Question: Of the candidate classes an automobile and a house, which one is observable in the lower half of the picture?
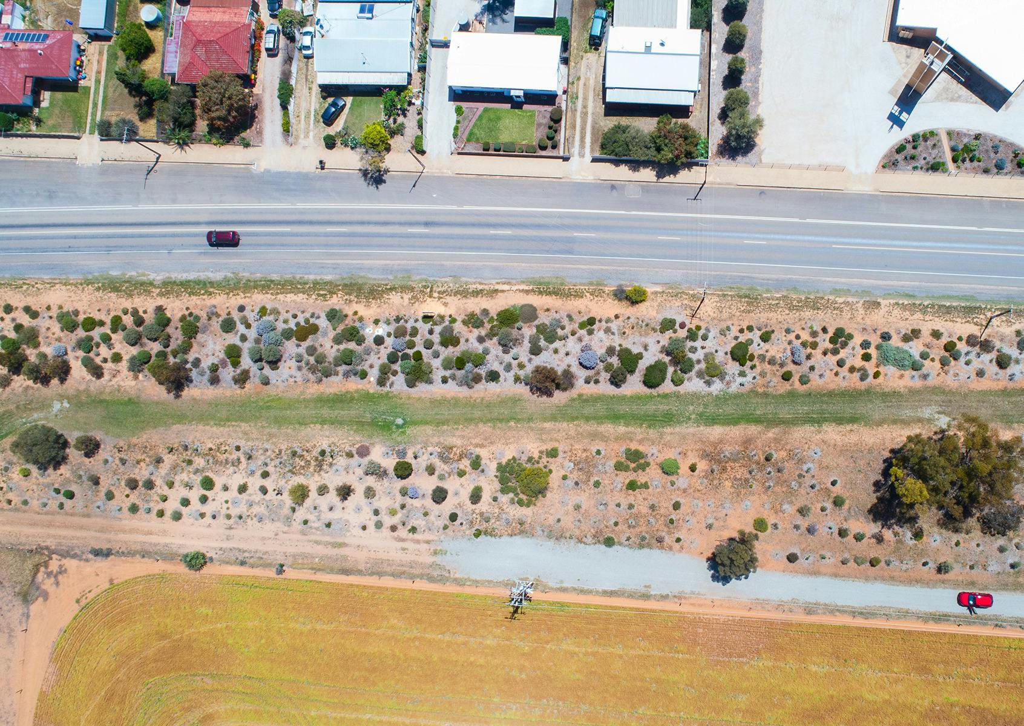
automobile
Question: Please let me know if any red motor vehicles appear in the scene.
Yes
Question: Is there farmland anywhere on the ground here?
Yes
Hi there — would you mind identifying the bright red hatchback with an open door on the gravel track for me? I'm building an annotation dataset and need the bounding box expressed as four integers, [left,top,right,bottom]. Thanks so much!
[957,592,992,614]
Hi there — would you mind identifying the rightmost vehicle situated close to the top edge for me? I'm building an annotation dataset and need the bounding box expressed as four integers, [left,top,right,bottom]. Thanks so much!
[590,10,609,48]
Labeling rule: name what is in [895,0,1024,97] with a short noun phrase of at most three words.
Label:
building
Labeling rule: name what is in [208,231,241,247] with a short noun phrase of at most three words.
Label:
car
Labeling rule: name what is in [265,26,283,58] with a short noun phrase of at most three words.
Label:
car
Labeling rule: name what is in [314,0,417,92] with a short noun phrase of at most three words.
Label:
house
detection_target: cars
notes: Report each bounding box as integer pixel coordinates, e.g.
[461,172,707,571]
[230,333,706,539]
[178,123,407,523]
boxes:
[265,0,283,15]
[957,592,992,614]
[323,99,348,128]
[208,231,241,247]
[300,28,315,60]
[590,10,609,48]
[265,26,283,58]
